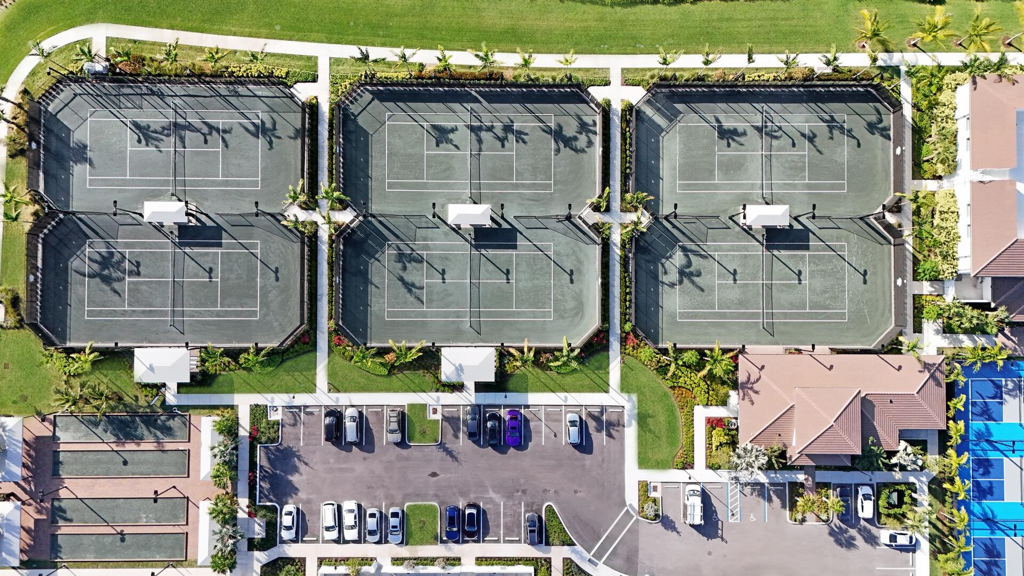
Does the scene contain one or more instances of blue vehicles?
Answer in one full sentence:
Yes, the image includes a blue vehicle.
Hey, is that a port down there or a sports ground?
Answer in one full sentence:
It's a sports ground.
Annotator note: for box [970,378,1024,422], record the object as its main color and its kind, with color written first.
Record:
blue sports court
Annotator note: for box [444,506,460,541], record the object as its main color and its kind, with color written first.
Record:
blue car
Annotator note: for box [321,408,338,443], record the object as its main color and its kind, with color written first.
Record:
black car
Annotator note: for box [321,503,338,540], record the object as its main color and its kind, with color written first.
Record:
white car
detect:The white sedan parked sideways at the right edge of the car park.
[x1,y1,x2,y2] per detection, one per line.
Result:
[880,531,917,548]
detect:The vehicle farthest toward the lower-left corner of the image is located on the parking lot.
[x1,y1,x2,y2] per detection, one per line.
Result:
[279,505,296,540]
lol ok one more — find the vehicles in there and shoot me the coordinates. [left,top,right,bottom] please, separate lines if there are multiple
[321,408,338,443]
[386,508,402,544]
[485,412,500,446]
[341,502,358,541]
[566,413,582,446]
[524,512,540,546]
[385,409,401,443]
[857,487,875,520]
[463,503,479,539]
[279,505,296,540]
[464,406,479,441]
[880,531,917,548]
[444,506,460,541]
[321,503,338,540]
[364,509,380,543]
[505,410,521,446]
[344,408,359,443]
[838,488,854,522]
[687,484,705,528]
